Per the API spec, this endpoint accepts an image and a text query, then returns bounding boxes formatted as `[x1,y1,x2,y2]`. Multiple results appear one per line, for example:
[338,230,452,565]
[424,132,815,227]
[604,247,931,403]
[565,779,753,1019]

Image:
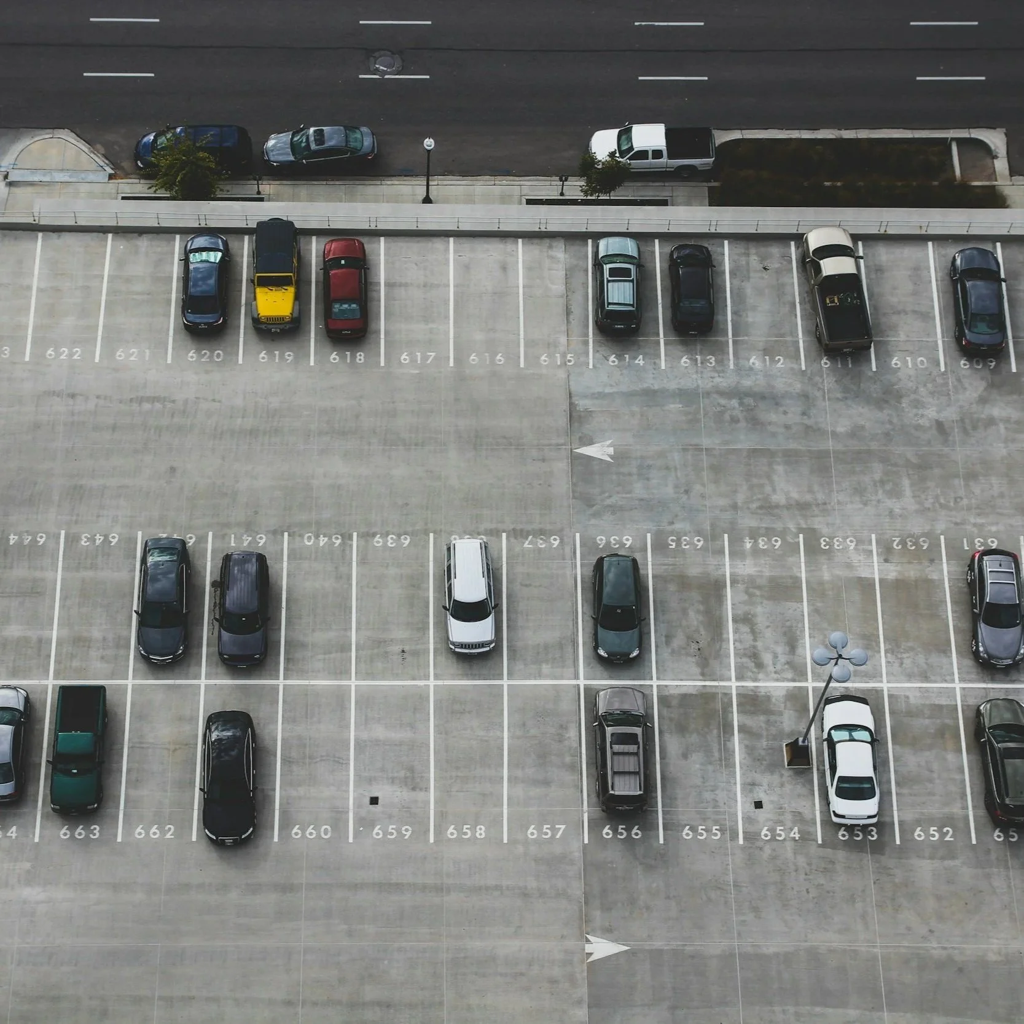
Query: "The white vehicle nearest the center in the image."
[441,544,501,657]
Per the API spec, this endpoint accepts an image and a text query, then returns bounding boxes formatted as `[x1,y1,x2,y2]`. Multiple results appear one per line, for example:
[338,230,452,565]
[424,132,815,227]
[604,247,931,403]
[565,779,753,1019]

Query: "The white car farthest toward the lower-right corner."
[822,694,881,833]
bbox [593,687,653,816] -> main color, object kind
gray car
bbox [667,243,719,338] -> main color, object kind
black car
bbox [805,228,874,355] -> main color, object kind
black truck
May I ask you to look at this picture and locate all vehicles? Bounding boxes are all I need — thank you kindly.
[593,236,646,339]
[590,556,647,666]
[248,218,302,332]
[0,685,30,805]
[587,122,716,178]
[952,247,1008,359]
[667,243,719,338]
[805,228,874,355]
[966,549,1024,670]
[822,694,881,833]
[197,710,260,847]
[177,233,232,336]
[212,554,273,670]
[263,124,378,179]
[132,537,192,666]
[441,544,501,657]
[593,687,653,816]
[975,698,1024,828]
[319,238,371,342]
[46,686,108,817]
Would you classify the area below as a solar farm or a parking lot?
parking lot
